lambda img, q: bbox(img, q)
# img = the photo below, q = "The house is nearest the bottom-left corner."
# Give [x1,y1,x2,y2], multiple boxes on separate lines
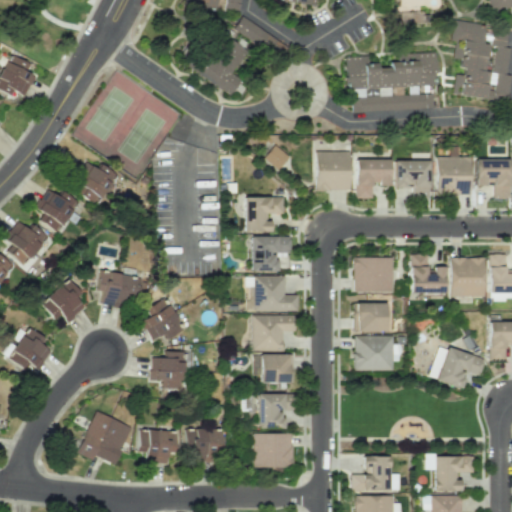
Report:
[78,412,130,468]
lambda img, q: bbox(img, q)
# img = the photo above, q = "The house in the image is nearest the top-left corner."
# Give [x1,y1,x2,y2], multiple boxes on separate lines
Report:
[0,51,37,100]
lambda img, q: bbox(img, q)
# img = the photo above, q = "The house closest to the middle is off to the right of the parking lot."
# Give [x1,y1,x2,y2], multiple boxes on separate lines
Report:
[246,237,292,272]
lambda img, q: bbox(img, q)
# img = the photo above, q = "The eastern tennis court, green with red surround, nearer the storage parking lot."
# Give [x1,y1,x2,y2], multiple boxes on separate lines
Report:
[106,94,179,180]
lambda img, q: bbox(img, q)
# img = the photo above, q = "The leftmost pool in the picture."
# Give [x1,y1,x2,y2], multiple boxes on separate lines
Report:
[98,246,118,266]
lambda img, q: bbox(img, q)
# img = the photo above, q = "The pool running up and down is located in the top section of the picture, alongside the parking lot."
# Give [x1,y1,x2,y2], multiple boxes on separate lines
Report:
[220,156,234,183]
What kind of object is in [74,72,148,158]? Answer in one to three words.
tennis court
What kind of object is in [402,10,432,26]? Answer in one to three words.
building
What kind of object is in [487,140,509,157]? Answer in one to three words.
swimming pool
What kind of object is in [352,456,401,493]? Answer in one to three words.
house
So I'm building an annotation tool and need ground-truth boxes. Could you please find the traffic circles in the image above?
[270,62,328,120]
